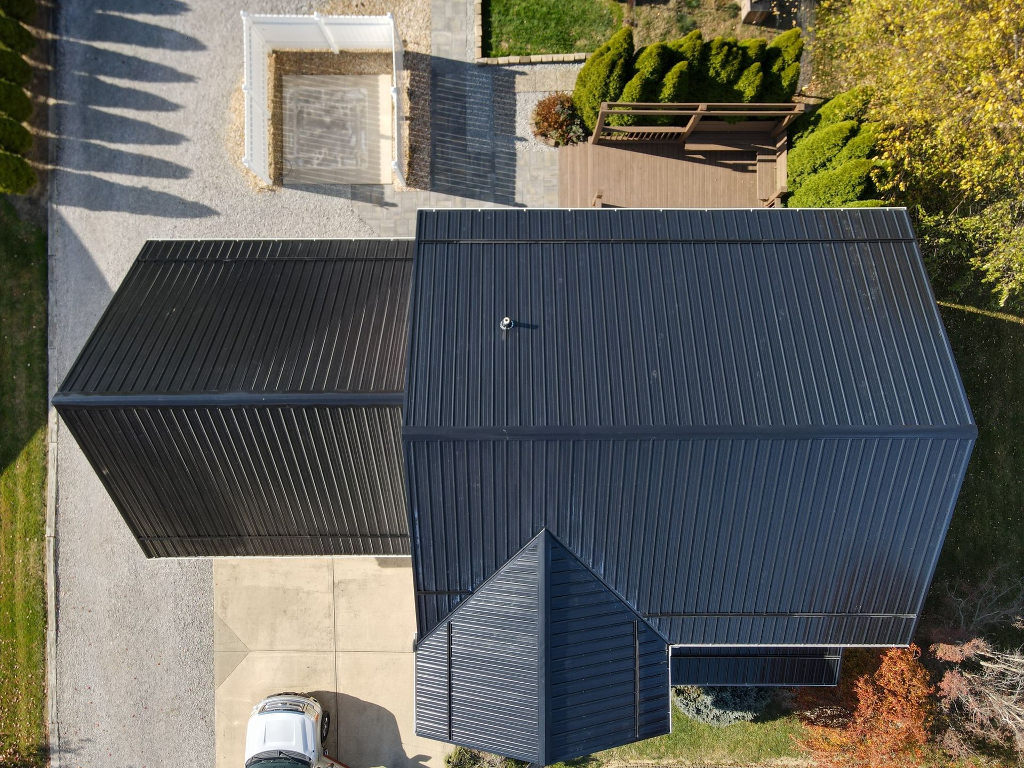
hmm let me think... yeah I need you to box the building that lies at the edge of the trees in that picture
[54,206,978,768]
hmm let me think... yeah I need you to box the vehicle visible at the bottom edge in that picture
[245,691,361,768]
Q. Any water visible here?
No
